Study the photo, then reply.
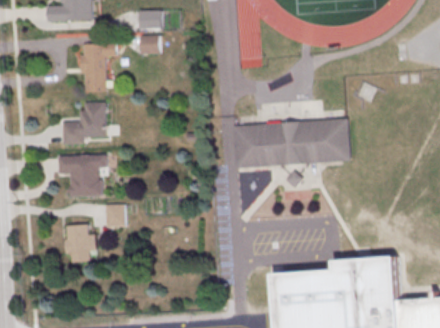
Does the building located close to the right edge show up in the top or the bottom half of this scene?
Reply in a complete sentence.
The building located close to the right edge sits in the bottom half of the picture.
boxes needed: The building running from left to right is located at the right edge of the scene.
[266,255,440,328]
